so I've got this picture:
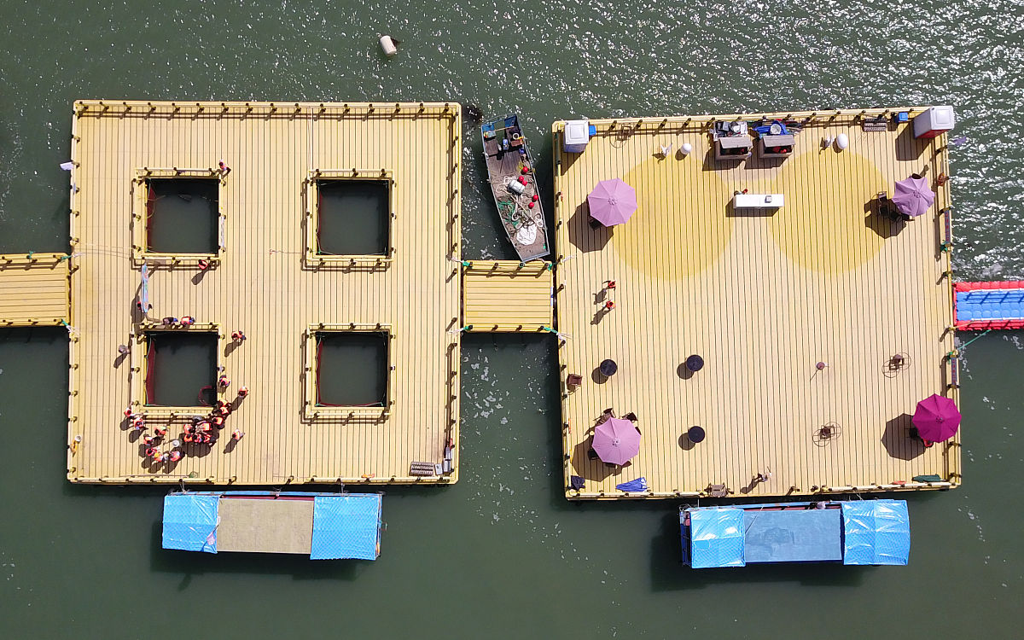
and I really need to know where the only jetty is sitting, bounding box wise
[955,281,1024,330]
